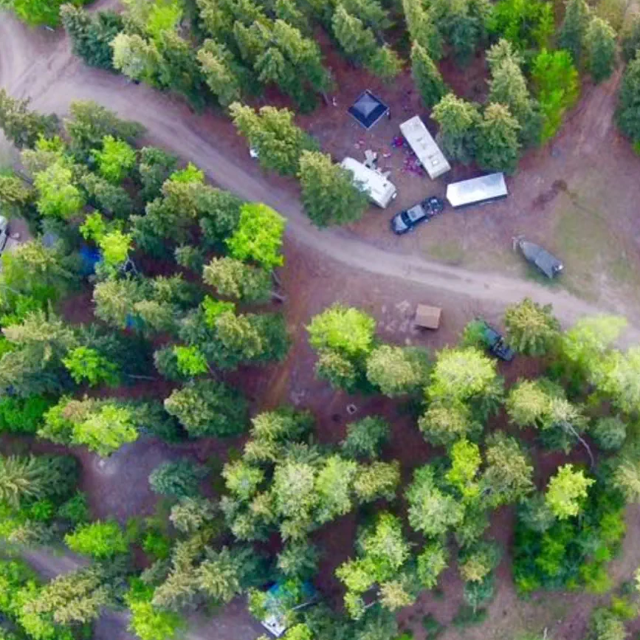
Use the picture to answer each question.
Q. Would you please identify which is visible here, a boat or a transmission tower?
boat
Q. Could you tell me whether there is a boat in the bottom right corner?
No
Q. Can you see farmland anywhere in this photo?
No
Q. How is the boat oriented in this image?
on a diagonal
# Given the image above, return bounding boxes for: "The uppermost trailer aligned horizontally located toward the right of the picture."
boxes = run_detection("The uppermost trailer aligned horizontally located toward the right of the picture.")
[440,171,509,205]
